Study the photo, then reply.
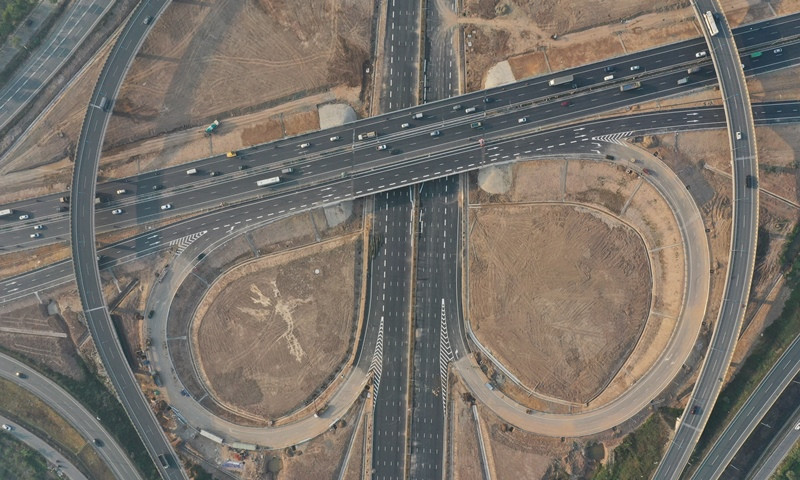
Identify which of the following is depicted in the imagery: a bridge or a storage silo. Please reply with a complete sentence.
It is a bridge that can be seen here.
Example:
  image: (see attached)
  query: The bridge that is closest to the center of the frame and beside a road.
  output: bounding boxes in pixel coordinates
[344,91,490,199]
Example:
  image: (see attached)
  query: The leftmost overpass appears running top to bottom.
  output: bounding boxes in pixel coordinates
[67,0,192,480]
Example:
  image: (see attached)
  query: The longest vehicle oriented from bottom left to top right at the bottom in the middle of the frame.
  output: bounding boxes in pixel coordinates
[310,408,327,421]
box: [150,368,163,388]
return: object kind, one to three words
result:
vehicle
